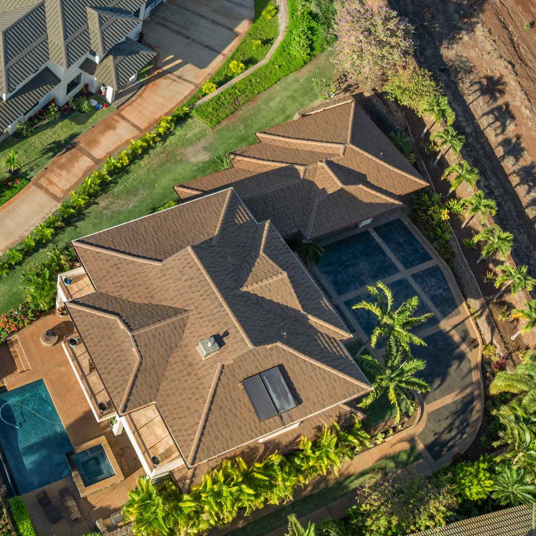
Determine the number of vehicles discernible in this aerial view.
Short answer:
0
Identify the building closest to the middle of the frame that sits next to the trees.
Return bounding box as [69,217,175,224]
[56,98,431,495]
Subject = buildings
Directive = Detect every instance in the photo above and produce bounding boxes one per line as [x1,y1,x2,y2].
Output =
[405,501,536,536]
[0,0,166,136]
[56,98,431,495]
